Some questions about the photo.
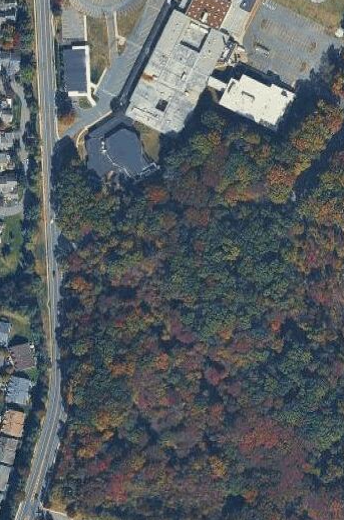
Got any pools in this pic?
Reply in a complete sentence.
No, the picture doesn't show any pool.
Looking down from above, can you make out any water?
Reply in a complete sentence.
No, the picture contains no water.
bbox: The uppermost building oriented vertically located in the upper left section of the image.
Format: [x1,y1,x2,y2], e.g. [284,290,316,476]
[63,45,96,106]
